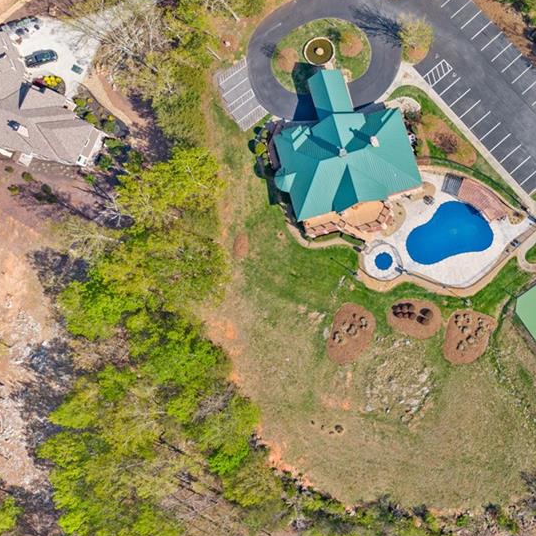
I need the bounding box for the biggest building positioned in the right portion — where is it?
[274,70,422,220]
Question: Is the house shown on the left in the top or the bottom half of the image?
top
